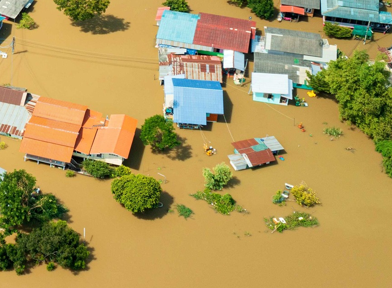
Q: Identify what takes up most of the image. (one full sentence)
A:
Most of the picture is covered by water.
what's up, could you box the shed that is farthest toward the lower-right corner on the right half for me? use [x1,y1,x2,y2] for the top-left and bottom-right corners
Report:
[228,137,284,170]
